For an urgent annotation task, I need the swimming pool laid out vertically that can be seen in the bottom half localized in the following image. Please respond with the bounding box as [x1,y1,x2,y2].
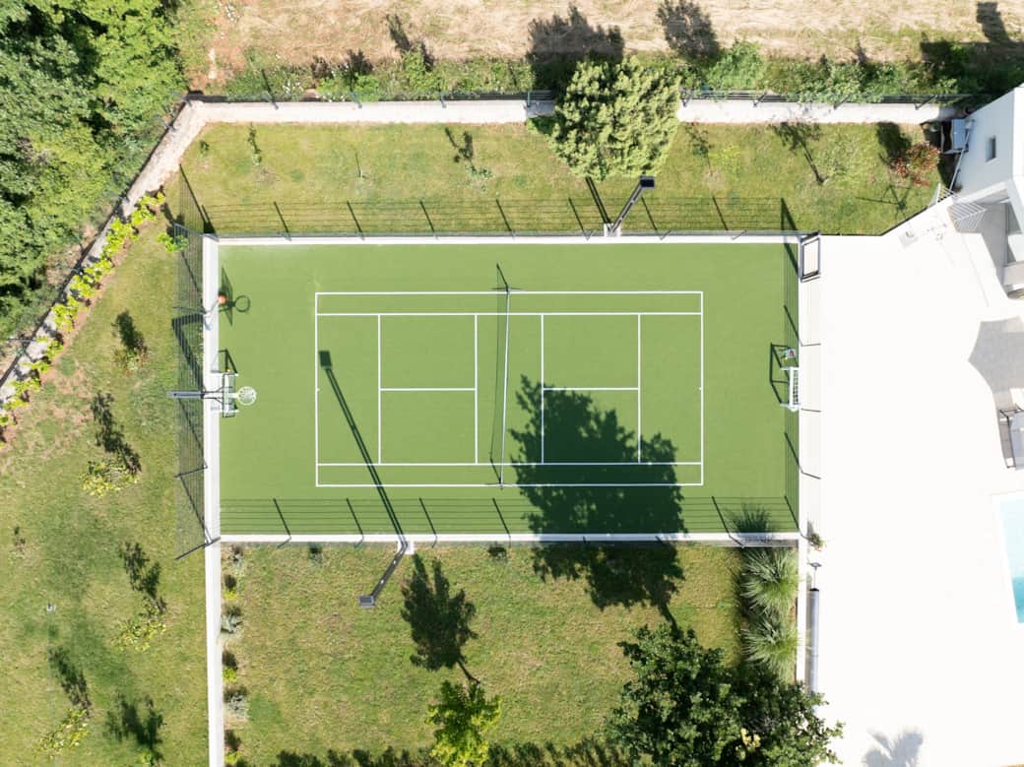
[987,485,1024,634]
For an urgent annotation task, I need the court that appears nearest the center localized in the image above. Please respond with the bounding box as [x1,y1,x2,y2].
[217,235,801,544]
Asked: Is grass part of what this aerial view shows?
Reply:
Yes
